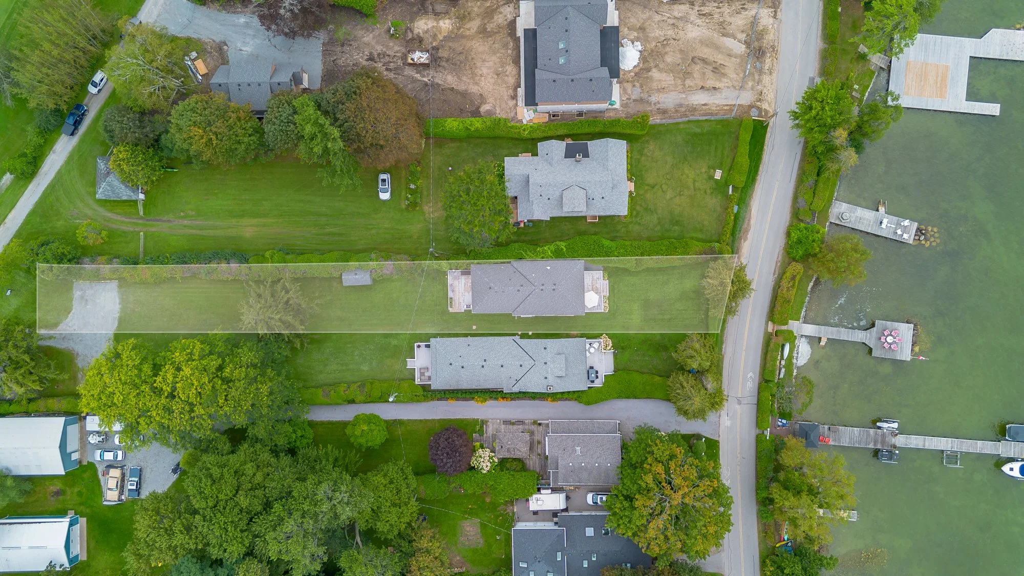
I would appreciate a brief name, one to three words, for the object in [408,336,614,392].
house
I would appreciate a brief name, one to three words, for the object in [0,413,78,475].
barn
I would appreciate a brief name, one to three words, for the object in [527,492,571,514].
vehicle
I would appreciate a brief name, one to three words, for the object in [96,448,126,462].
car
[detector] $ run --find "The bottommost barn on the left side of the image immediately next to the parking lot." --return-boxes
[0,513,80,571]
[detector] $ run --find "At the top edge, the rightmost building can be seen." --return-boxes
[517,0,620,119]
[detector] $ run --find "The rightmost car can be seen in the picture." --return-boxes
[586,491,614,505]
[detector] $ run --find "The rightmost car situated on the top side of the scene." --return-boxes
[378,173,392,200]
